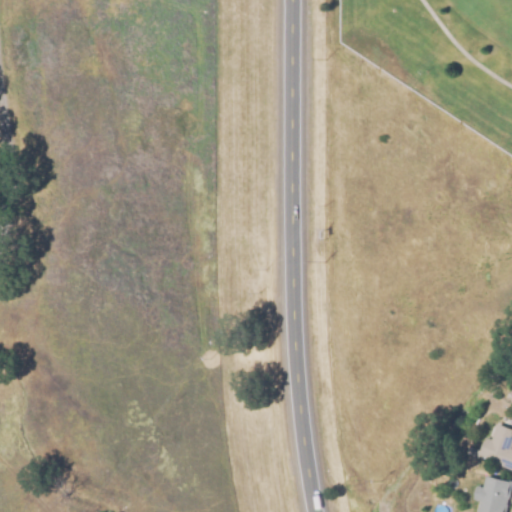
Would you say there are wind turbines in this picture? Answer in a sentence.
No, the frame has no wind turbine in it.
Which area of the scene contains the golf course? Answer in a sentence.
The golf course is in the top right part of the image.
